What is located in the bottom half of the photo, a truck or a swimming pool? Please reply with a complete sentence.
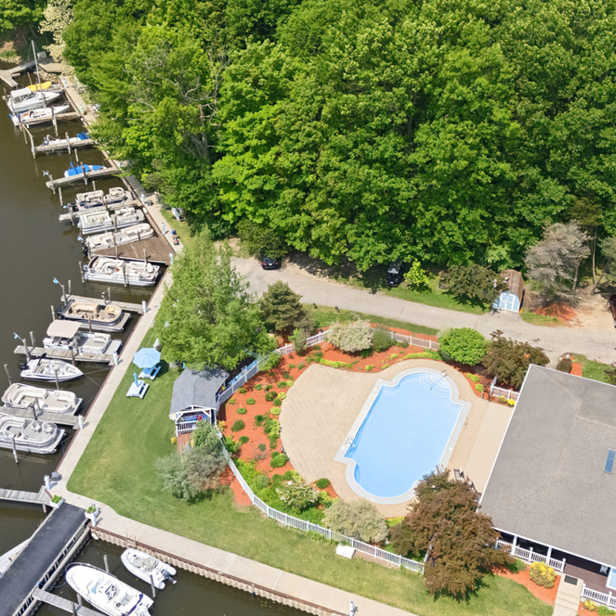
Visible in the bottom half of the photo is a swimming pool.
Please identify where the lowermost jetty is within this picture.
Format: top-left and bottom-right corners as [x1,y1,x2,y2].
[32,583,121,616]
